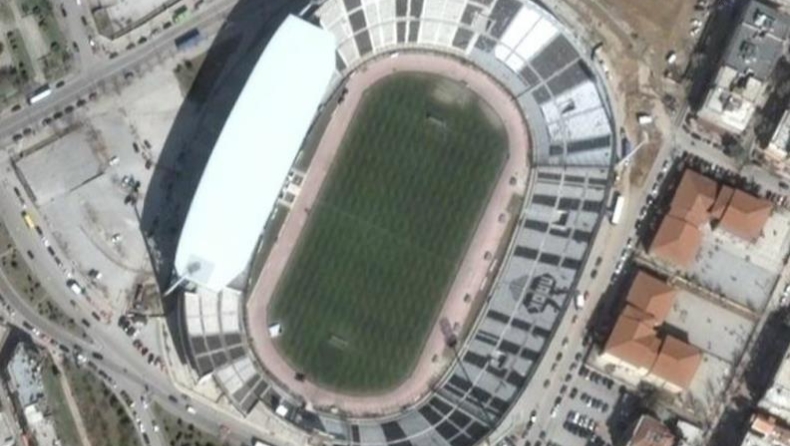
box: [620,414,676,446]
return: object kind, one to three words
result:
house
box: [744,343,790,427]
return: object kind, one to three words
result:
building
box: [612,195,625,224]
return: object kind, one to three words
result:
vehicle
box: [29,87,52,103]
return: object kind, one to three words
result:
vehicle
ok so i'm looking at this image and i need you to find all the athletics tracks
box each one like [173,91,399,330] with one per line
[247,52,529,415]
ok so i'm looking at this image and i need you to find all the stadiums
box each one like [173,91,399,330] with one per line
[169,0,619,446]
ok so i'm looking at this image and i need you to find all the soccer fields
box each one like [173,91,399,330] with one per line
[267,71,509,394]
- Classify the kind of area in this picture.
sports ground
